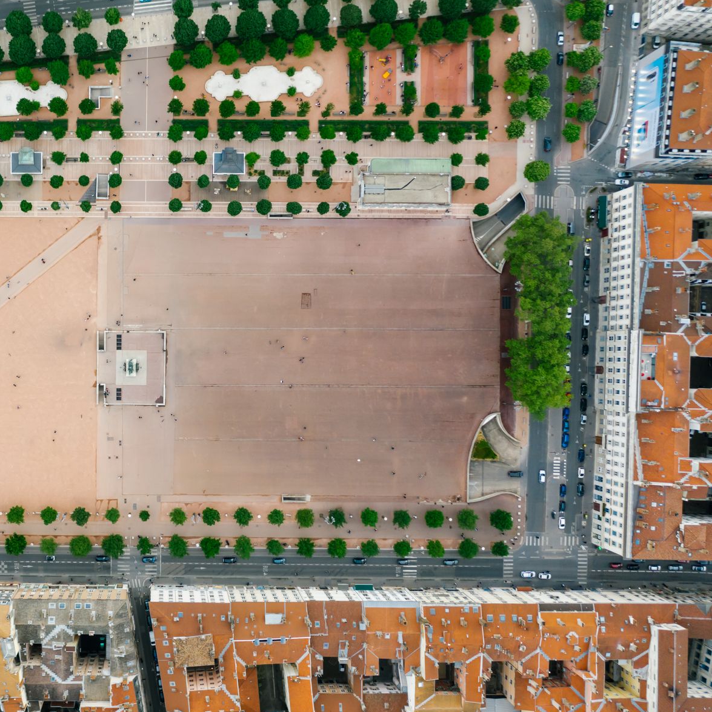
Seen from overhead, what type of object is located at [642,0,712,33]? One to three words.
building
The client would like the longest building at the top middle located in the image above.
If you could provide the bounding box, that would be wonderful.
[355,159,453,210]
